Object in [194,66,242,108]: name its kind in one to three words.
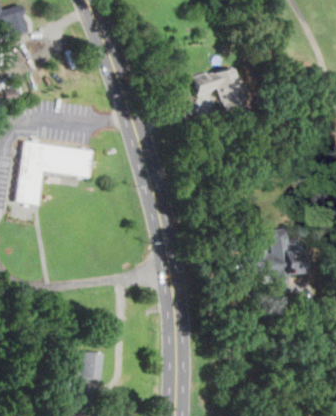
house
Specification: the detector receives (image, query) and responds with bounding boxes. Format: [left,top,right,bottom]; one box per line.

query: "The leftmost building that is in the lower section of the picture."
[82,352,105,380]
